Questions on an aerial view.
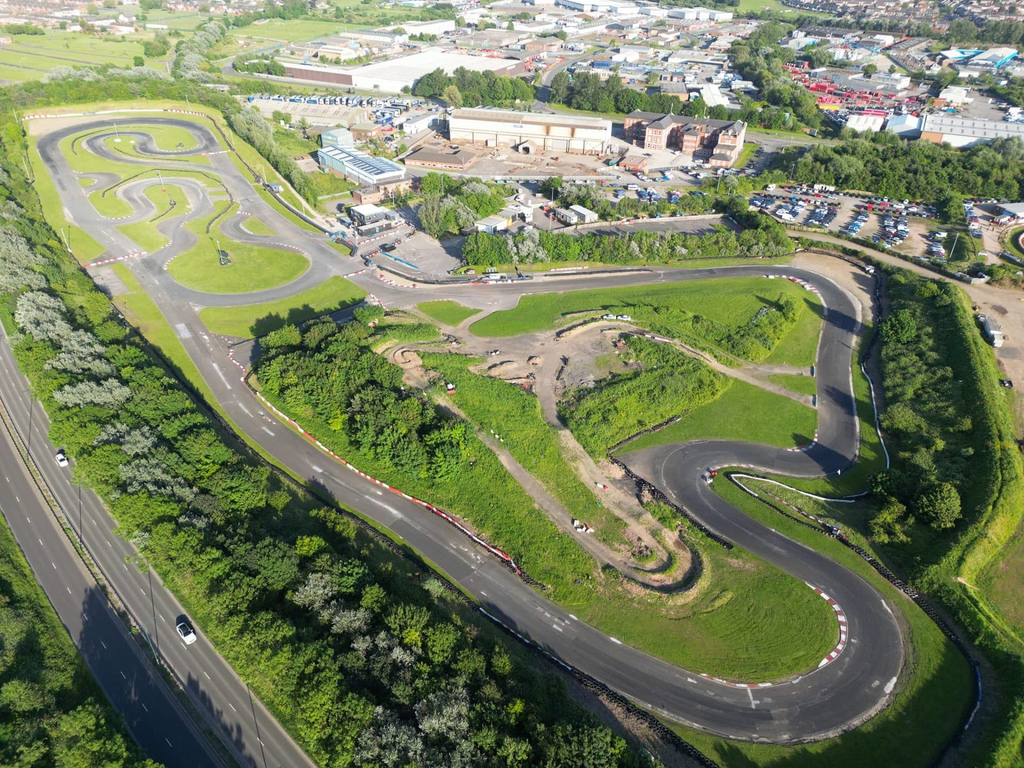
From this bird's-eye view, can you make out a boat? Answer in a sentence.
No, the scene contains no boat.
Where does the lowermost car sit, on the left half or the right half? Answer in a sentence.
The lowermost car appears in the left half of the scene.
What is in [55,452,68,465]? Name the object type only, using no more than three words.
vehicle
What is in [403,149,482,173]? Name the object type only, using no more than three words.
building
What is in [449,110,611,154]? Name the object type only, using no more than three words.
shed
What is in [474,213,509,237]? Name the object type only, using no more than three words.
shed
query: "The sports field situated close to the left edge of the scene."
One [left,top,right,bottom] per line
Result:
[0,30,177,76]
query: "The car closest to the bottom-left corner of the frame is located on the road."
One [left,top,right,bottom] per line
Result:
[176,622,197,644]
